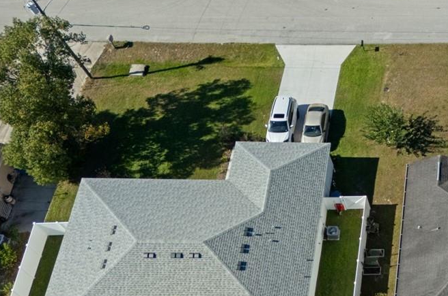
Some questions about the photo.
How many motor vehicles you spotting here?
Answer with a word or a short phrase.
2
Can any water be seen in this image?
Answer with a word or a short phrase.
No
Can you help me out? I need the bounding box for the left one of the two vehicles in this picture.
[268,96,301,144]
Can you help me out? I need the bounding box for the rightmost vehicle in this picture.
[299,103,330,144]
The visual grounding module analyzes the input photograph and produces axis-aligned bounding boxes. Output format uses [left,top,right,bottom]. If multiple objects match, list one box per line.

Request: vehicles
[299,103,330,144]
[268,96,301,144]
